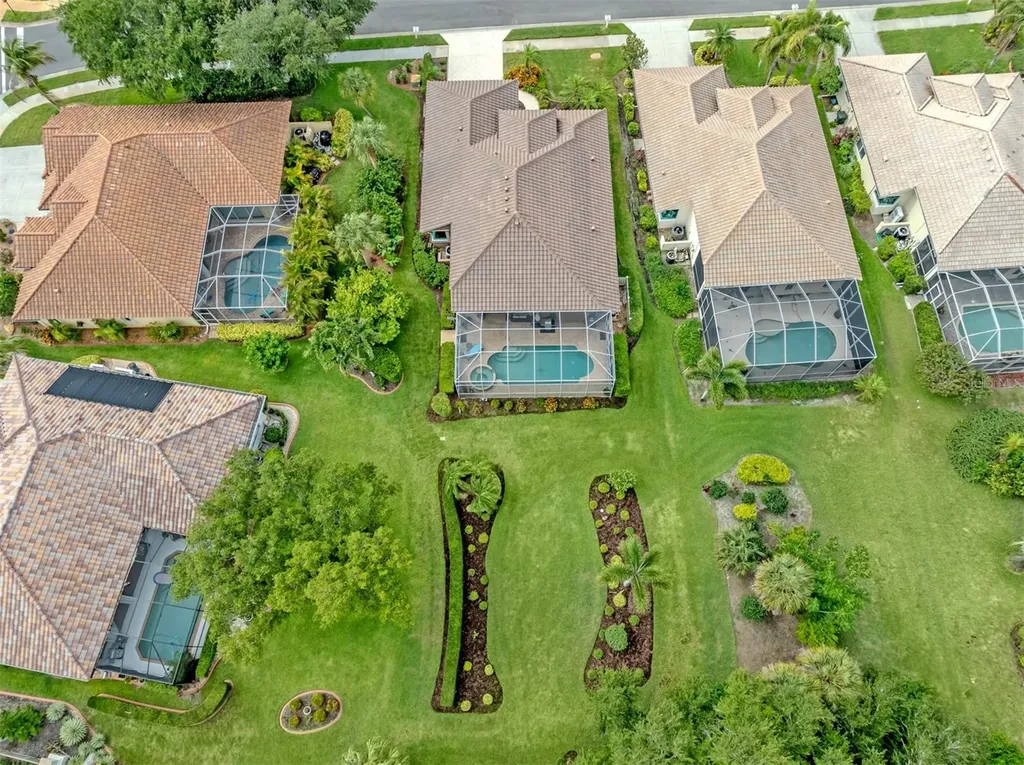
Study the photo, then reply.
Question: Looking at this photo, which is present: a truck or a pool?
pool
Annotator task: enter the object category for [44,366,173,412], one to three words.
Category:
solar panel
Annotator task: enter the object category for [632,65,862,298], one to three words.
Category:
house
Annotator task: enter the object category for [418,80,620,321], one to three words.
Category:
house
